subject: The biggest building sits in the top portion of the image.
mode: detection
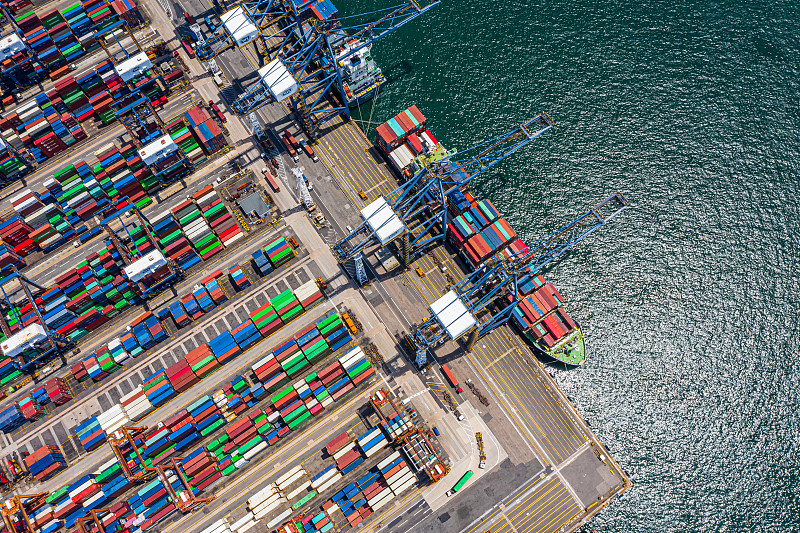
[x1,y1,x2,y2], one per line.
[238,190,272,221]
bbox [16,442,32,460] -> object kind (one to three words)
work vehicle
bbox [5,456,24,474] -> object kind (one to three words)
work vehicle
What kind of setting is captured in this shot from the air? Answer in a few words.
port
